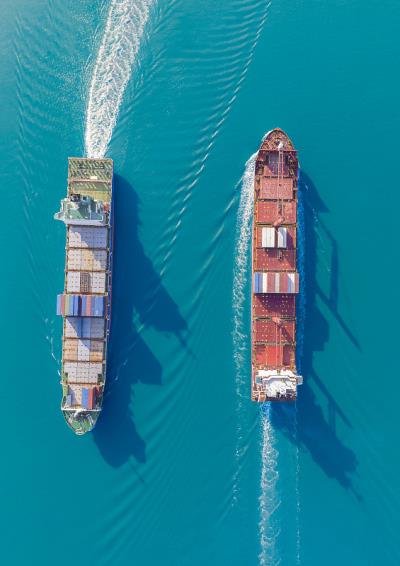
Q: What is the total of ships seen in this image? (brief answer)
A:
2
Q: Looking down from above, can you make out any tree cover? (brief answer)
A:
No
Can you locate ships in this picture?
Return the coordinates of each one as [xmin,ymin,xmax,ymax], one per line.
[52,156,115,436]
[251,127,305,407]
